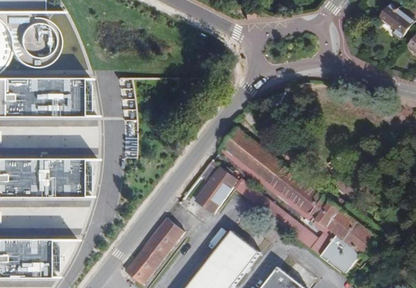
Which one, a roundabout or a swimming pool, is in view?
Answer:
roundabout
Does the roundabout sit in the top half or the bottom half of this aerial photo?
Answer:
top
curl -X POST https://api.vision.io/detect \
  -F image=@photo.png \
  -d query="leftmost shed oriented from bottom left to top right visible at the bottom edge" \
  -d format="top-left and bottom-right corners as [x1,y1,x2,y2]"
[126,217,187,288]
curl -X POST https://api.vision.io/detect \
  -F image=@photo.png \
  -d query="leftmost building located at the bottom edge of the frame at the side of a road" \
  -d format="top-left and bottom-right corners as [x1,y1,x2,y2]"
[0,238,82,283]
